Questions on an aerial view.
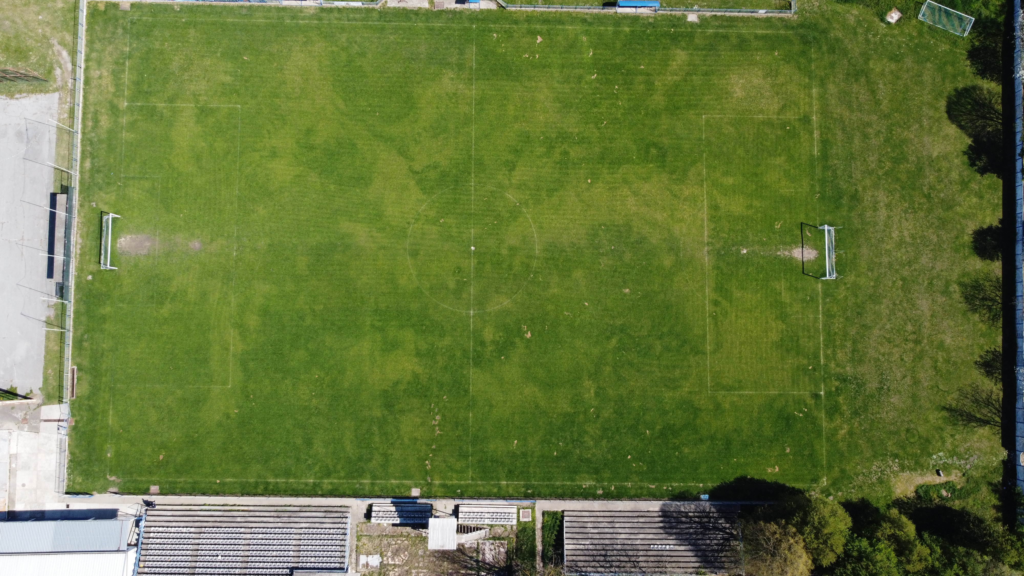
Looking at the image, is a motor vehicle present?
No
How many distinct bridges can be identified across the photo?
0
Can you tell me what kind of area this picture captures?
sports ground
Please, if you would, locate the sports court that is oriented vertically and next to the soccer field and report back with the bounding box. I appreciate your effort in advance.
[0,86,59,401]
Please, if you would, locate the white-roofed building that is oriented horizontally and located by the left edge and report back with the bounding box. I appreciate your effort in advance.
[0,518,138,576]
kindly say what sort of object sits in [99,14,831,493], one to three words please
soccer field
